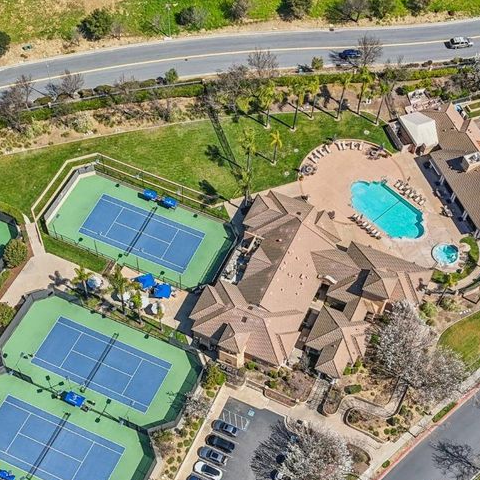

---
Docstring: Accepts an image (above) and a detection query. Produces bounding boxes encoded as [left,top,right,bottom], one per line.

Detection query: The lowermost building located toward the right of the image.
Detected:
[189,191,432,382]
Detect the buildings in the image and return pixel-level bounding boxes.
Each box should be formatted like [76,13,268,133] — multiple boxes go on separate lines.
[403,99,480,230]
[189,191,432,382]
